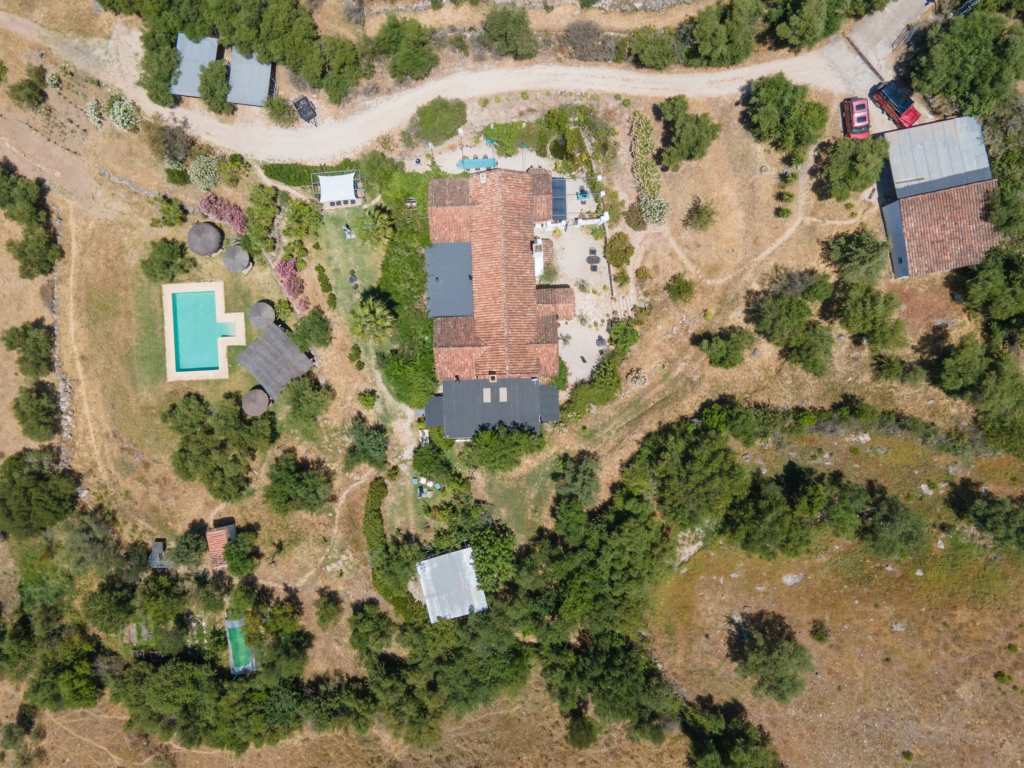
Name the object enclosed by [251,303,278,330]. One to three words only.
umbrella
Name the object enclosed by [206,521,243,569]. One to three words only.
shed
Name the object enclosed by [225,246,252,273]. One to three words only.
umbrella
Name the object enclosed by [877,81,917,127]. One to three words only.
car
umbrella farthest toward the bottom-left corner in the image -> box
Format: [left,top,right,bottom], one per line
[245,389,273,416]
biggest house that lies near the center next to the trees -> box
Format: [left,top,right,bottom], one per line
[425,168,576,440]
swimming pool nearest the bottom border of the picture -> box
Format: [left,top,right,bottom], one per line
[162,281,246,382]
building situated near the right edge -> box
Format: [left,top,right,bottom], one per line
[871,115,1006,280]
